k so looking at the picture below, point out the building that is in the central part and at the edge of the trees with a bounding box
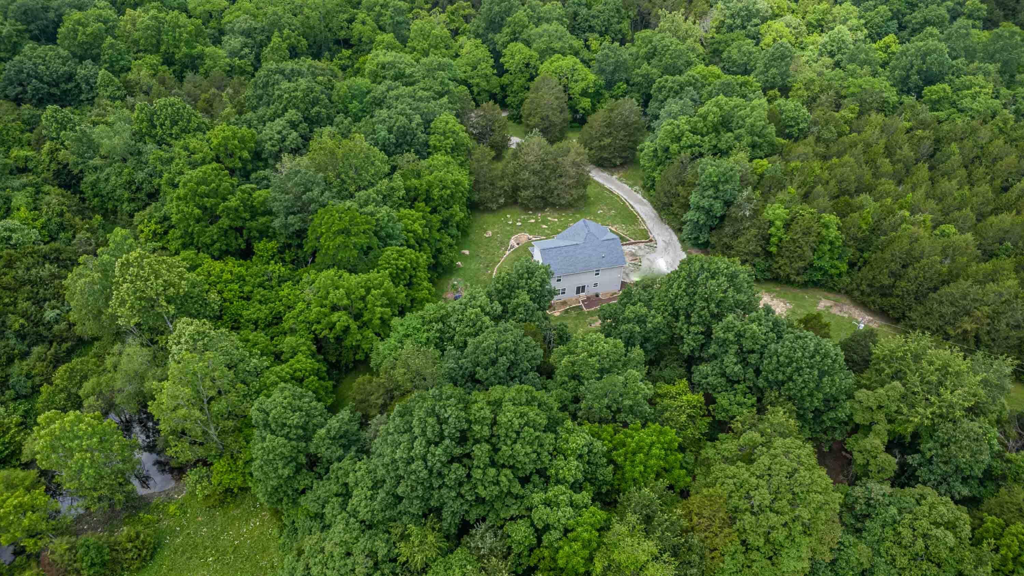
[528,216,626,301]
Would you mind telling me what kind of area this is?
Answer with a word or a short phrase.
forest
